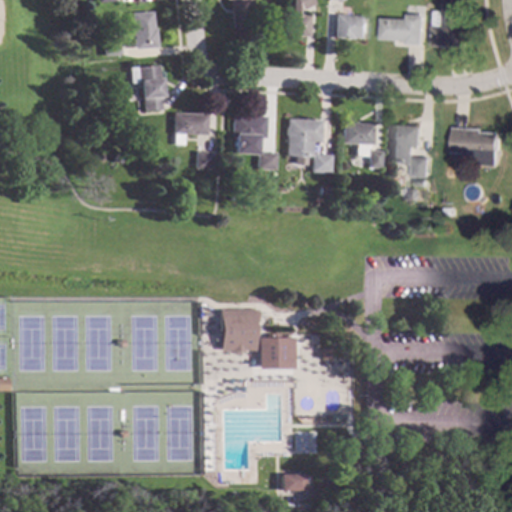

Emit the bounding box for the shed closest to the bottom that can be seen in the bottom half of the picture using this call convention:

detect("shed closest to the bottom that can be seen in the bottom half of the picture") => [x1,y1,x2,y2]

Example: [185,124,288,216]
[283,474,308,492]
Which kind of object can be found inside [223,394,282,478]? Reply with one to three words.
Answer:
swimming pool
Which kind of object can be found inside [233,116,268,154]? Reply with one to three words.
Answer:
house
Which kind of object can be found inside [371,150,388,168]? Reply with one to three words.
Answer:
building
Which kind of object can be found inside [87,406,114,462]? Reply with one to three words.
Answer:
tennis court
